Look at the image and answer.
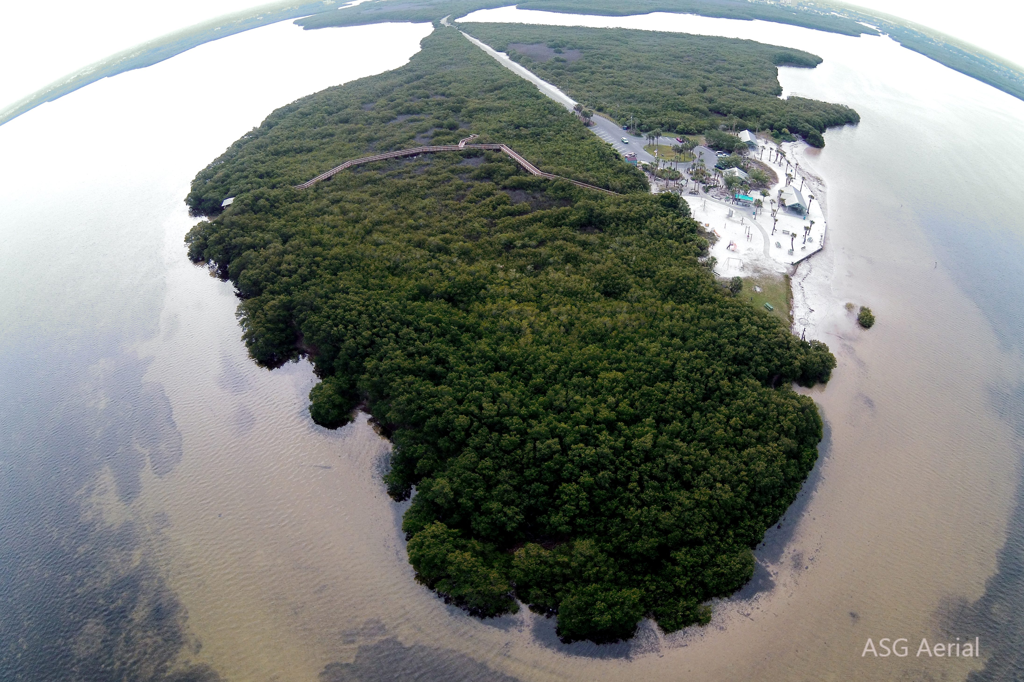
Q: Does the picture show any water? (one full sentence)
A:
Yes, some water is visible.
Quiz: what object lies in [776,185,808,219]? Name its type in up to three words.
building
